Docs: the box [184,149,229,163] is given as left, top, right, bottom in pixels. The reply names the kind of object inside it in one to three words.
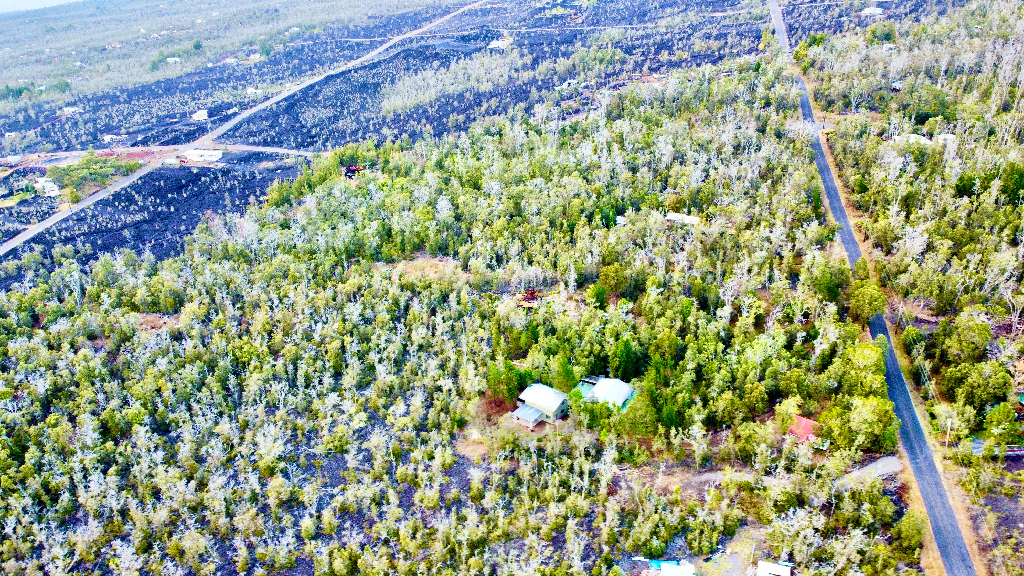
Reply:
house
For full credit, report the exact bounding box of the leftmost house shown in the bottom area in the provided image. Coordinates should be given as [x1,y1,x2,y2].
[506,380,575,429]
